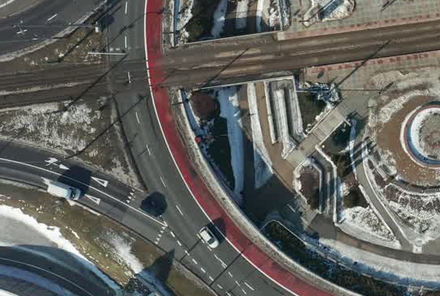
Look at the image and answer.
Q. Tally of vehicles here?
3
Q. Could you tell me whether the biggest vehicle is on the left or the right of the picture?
left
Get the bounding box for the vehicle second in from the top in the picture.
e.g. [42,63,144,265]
[136,196,163,219]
